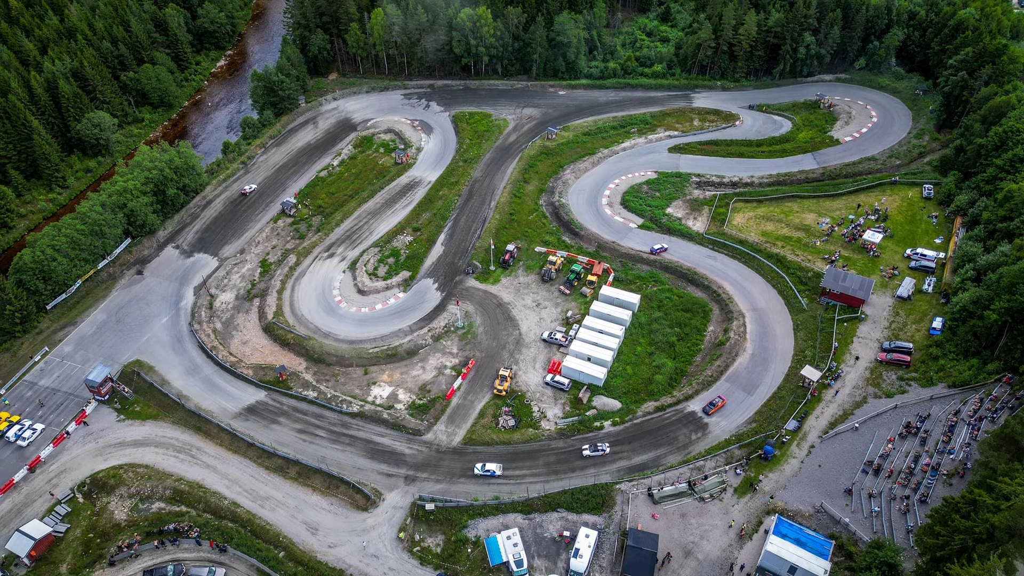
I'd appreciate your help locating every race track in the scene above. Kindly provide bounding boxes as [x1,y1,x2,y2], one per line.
[0,82,912,500]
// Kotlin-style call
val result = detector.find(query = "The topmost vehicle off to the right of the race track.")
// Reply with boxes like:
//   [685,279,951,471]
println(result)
[922,182,936,198]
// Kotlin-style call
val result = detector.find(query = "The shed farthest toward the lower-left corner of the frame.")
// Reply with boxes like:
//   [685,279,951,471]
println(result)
[6,519,58,565]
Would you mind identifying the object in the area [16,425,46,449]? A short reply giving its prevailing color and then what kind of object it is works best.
white car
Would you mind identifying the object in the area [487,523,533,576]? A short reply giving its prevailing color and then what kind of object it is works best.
white camper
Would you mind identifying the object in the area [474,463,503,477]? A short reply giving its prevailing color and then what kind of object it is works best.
white car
